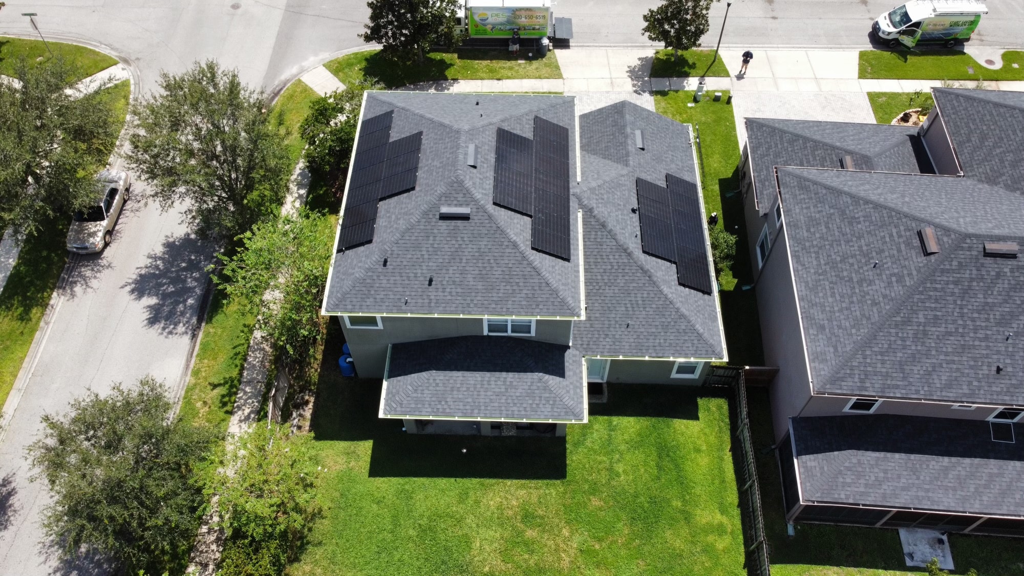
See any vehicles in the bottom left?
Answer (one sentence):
No, no vehicle is visible in the bottom left.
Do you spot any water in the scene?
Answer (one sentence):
No, the picture contains no water.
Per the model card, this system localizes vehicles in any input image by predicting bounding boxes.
[445,0,573,47]
[66,179,129,259]
[872,0,991,48]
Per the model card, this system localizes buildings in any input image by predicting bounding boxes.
[321,91,729,437]
[737,88,1024,537]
